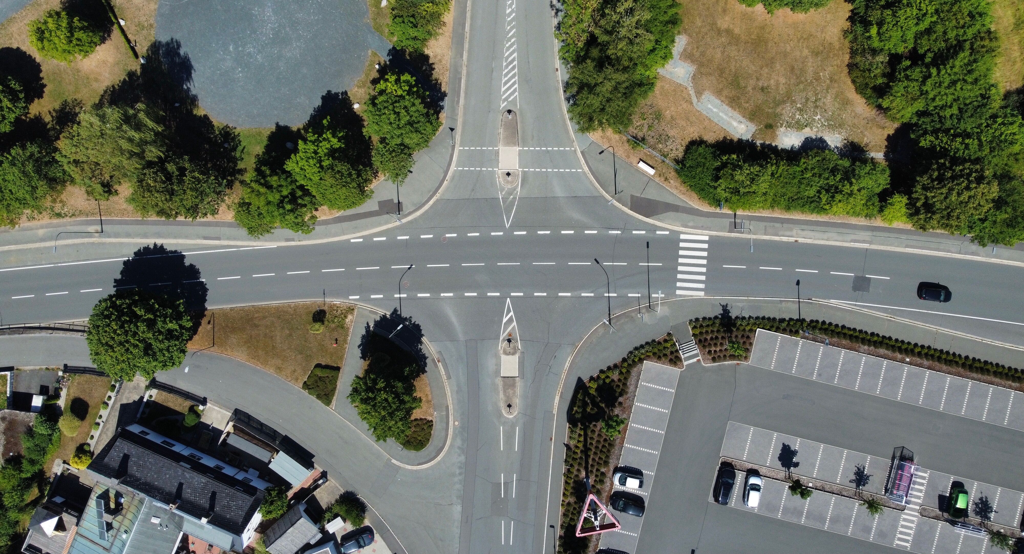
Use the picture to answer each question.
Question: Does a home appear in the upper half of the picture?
No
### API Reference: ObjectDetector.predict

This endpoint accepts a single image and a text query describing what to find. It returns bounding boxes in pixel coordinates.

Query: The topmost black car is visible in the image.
[921,287,956,306]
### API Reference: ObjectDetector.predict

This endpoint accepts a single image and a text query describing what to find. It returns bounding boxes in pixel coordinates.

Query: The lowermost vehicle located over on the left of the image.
[335,529,371,554]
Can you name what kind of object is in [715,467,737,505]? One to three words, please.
car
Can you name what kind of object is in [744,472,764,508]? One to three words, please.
car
